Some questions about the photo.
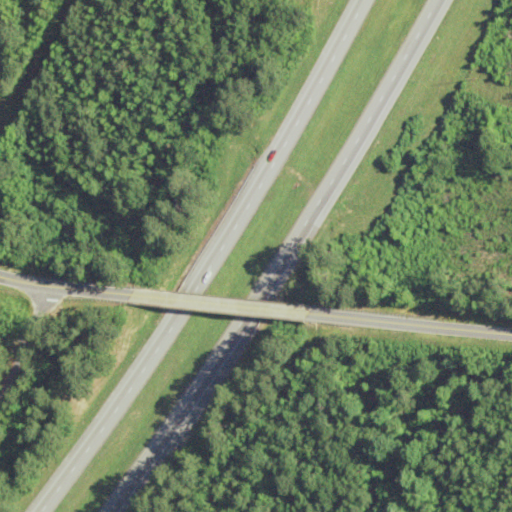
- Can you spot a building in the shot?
No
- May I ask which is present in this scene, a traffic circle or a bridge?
bridge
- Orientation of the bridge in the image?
from side to side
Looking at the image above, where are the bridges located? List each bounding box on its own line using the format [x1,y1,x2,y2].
[125,286,312,324]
